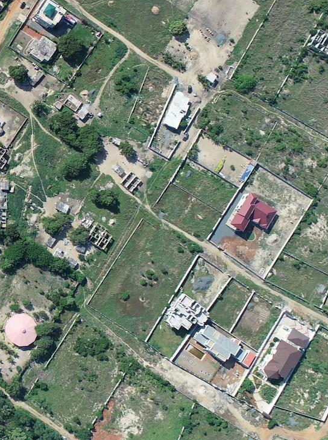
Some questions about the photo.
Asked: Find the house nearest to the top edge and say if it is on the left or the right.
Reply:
left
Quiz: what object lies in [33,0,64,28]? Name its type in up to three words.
house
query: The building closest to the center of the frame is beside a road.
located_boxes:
[118,170,144,193]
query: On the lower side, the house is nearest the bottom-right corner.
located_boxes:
[257,327,311,381]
